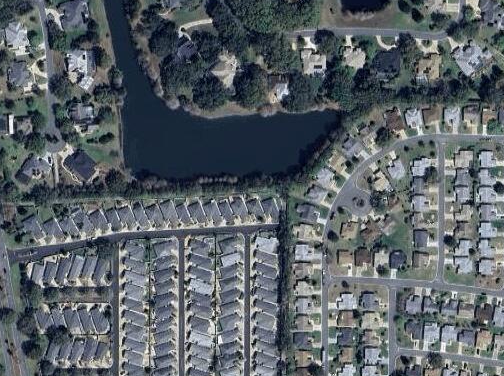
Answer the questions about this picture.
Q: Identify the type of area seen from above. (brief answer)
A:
residential area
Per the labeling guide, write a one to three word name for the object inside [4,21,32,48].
house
